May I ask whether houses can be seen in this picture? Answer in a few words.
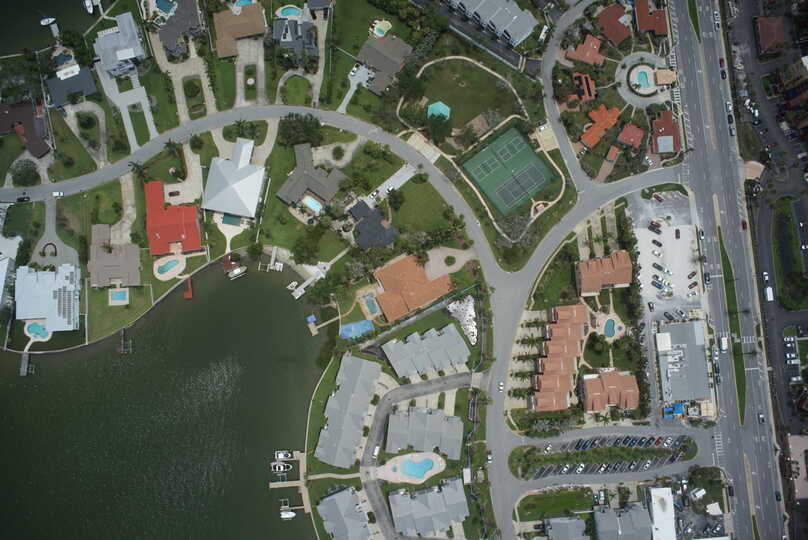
Yes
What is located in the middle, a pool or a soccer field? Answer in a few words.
pool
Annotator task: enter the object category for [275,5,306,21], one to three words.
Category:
swimming pool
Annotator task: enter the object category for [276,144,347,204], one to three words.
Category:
house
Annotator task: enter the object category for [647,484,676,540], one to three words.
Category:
building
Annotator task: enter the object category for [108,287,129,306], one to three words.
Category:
swimming pool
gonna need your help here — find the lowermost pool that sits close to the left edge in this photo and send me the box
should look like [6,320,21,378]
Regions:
[24,319,52,341]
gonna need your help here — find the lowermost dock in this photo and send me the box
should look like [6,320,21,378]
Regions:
[269,450,311,513]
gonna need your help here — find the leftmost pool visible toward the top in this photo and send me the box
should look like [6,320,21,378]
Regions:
[52,47,74,69]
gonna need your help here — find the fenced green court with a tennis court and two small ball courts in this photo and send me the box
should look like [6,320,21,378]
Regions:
[462,126,557,216]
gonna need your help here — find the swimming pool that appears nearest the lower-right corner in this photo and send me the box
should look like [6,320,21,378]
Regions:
[597,312,626,340]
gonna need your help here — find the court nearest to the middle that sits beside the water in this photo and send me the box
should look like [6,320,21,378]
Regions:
[341,321,375,339]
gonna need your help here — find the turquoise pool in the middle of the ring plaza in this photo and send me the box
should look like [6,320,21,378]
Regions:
[629,63,656,91]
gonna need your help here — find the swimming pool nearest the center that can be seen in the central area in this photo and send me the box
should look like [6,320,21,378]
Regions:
[357,283,383,321]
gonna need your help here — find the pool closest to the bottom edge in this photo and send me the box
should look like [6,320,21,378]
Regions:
[376,454,445,483]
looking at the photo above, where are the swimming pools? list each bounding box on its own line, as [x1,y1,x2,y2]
[275,5,306,21]
[52,47,74,69]
[296,190,324,224]
[597,312,626,340]
[153,256,186,280]
[376,454,445,483]
[108,287,129,306]
[24,319,52,341]
[213,212,247,241]
[144,0,176,25]
[357,283,383,321]
[370,19,391,37]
